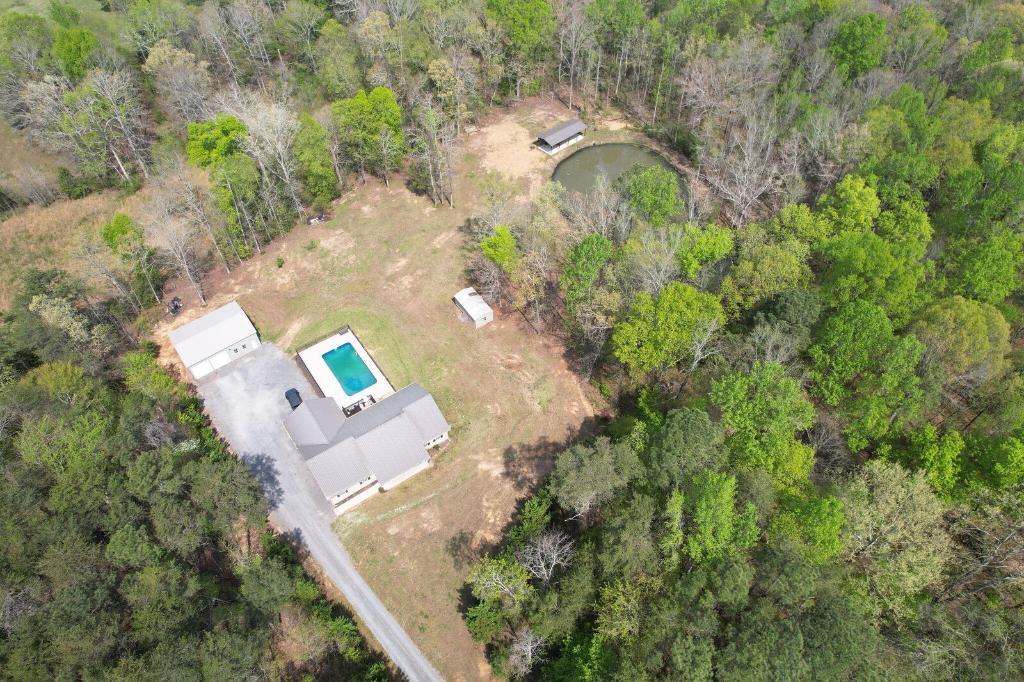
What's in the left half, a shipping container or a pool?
pool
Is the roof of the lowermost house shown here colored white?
Yes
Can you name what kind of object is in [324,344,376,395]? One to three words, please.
swimming pool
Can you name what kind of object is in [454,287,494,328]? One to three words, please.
shed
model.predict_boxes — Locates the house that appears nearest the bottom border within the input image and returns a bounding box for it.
[282,382,453,506]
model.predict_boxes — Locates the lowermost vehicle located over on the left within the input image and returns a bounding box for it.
[286,389,303,410]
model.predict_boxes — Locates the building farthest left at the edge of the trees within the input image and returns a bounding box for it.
[168,301,261,379]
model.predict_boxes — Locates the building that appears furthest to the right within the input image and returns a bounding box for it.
[535,118,587,156]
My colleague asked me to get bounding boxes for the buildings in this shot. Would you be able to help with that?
[282,382,453,506]
[168,301,261,379]
[535,118,587,156]
[454,287,494,328]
